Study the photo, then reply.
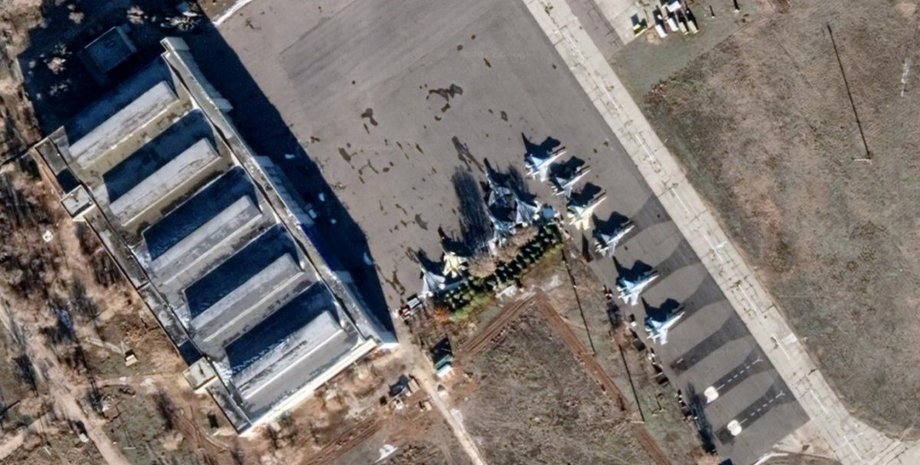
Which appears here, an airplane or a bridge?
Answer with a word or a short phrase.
airplane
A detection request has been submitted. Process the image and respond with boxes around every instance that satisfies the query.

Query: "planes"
[441,248,464,283]
[615,275,658,305]
[548,170,590,200]
[592,226,633,259]
[641,313,683,347]
[565,197,606,232]
[485,170,515,212]
[524,152,565,183]
[411,255,444,298]
[507,182,540,227]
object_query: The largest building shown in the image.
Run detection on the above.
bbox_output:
[35,38,396,433]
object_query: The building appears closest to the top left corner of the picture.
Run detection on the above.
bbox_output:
[84,27,139,73]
